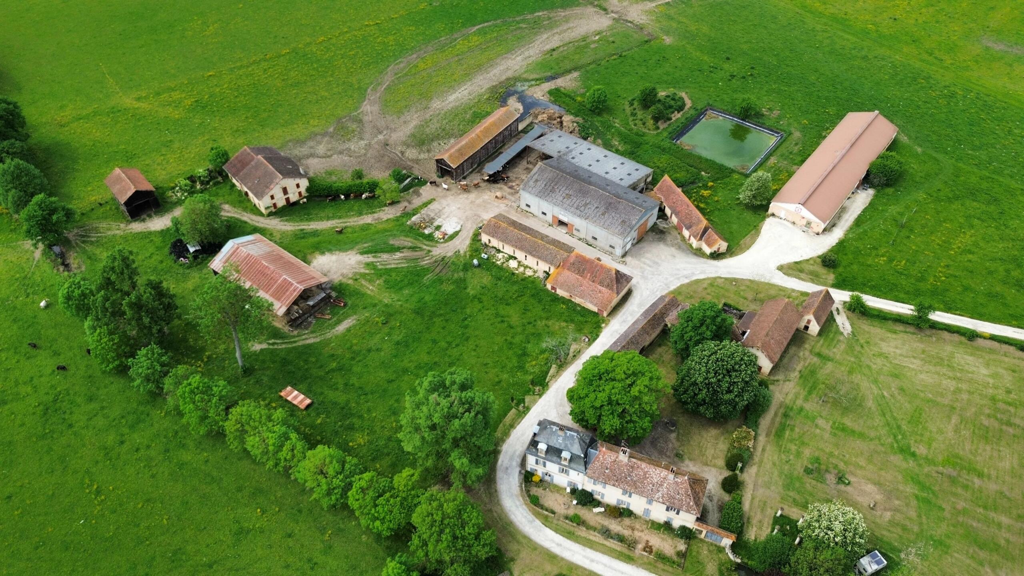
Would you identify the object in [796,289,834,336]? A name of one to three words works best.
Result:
building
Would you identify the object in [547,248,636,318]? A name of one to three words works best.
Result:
barn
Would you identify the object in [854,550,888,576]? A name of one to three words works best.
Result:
camper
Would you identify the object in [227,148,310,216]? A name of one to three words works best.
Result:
house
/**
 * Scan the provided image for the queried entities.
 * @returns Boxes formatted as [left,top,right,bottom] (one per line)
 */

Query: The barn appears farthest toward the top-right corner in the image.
[770,110,898,233]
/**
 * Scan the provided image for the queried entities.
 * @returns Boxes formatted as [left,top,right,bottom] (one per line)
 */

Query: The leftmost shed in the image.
[105,167,161,219]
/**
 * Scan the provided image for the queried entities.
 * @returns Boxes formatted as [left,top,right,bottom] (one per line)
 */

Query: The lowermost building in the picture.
[524,415,711,527]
